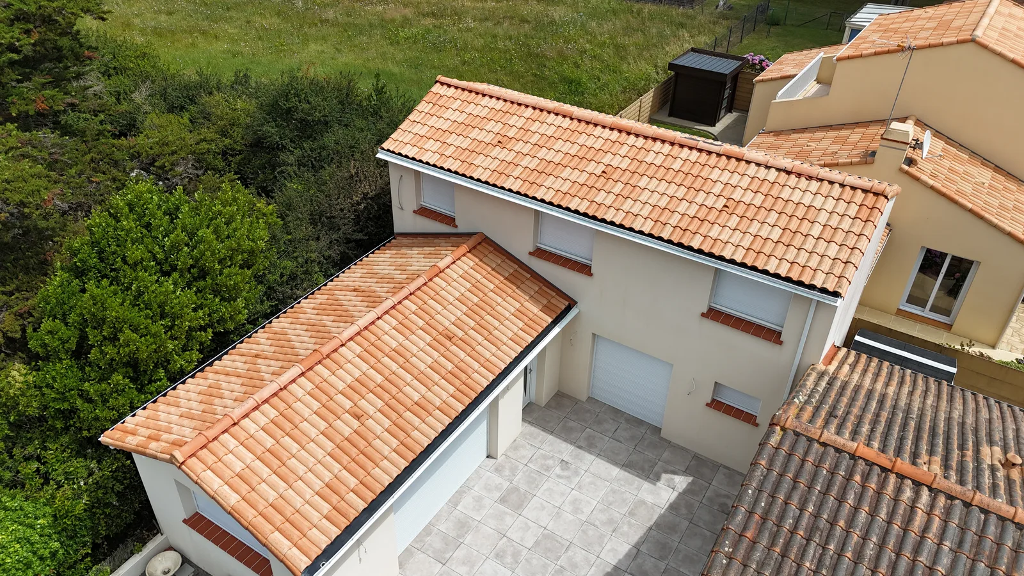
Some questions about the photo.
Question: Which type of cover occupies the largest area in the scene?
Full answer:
The largest share of the image is taken up by buildings.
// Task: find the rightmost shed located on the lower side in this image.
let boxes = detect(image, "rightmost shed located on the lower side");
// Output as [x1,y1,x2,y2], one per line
[703,346,1024,576]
